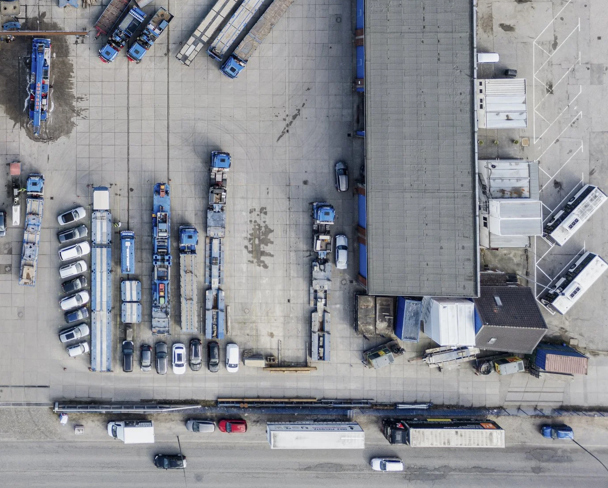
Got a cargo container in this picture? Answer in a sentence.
Yes, there's a cargo container here.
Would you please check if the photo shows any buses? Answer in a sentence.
Yes, a bus appears in the view.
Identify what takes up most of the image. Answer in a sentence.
The scene is dominated by paved ground.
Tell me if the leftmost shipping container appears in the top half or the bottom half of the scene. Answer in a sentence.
The bottom half of the photo is where the leftmost shipping container is.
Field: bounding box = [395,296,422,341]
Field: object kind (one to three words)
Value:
shipping container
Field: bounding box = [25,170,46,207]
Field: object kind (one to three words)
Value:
truck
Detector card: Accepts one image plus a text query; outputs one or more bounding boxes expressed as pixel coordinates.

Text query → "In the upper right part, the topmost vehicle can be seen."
[479,51,501,65]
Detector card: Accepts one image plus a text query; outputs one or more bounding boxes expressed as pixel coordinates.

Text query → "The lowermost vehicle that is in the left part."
[154,454,186,469]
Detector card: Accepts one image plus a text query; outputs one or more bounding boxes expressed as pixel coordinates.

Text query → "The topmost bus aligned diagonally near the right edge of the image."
[541,183,607,249]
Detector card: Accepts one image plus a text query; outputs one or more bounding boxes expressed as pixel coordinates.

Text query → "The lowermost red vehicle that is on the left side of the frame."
[218,418,247,433]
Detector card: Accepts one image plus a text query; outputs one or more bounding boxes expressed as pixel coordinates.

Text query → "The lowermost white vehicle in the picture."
[369,456,403,472]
